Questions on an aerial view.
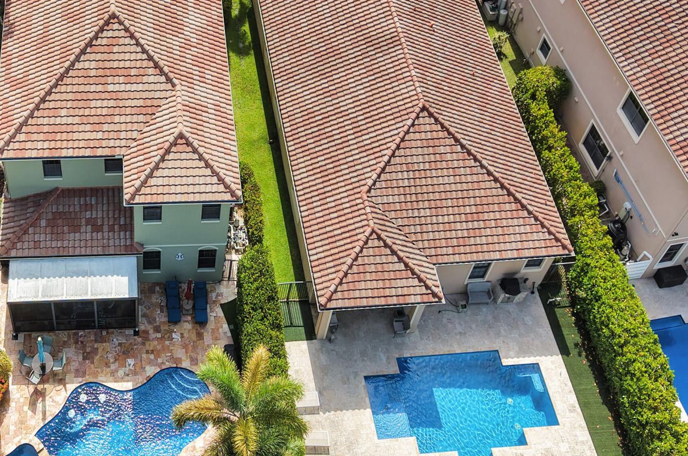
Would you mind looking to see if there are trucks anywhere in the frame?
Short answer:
No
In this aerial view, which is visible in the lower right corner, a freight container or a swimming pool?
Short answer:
swimming pool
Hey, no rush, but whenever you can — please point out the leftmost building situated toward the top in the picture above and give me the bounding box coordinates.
[0,0,247,282]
